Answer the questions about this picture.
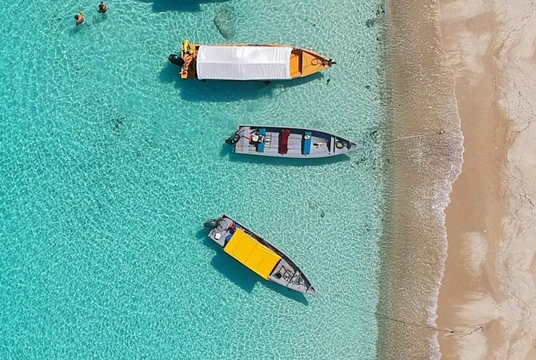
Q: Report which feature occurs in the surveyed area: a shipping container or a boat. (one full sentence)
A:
There is a boat in the scene.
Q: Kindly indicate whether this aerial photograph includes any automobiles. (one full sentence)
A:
No, no automobile is visible in the scene.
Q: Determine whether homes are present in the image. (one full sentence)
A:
No, no home can be seen from above.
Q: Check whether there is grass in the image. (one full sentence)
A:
No, there's no grass in this view.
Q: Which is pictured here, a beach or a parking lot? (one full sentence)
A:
The picture captures a beach.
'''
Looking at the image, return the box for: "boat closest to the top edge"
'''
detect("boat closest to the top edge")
[167,43,336,80]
